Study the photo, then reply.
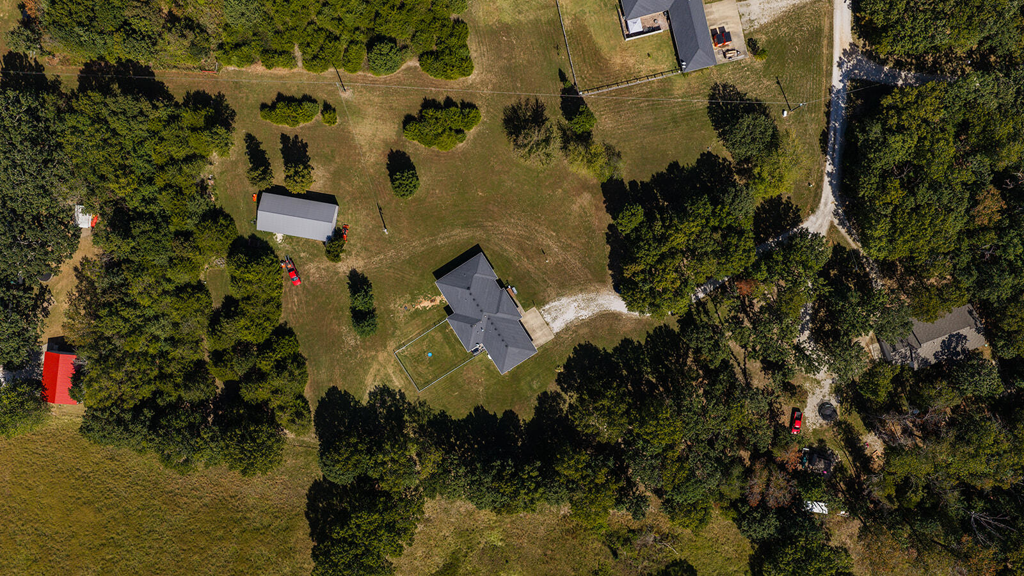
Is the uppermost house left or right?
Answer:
right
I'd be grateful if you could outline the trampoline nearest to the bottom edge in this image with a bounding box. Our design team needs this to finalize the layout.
[820,405,838,421]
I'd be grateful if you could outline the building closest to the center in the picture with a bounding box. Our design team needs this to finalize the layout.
[435,252,538,374]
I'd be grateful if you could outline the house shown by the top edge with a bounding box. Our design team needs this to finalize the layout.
[622,0,717,72]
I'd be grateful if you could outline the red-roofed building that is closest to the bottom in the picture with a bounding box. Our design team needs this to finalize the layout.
[42,351,83,405]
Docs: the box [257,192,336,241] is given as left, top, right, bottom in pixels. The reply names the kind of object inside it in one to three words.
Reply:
barn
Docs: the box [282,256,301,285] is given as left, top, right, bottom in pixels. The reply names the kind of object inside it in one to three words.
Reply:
vehicle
